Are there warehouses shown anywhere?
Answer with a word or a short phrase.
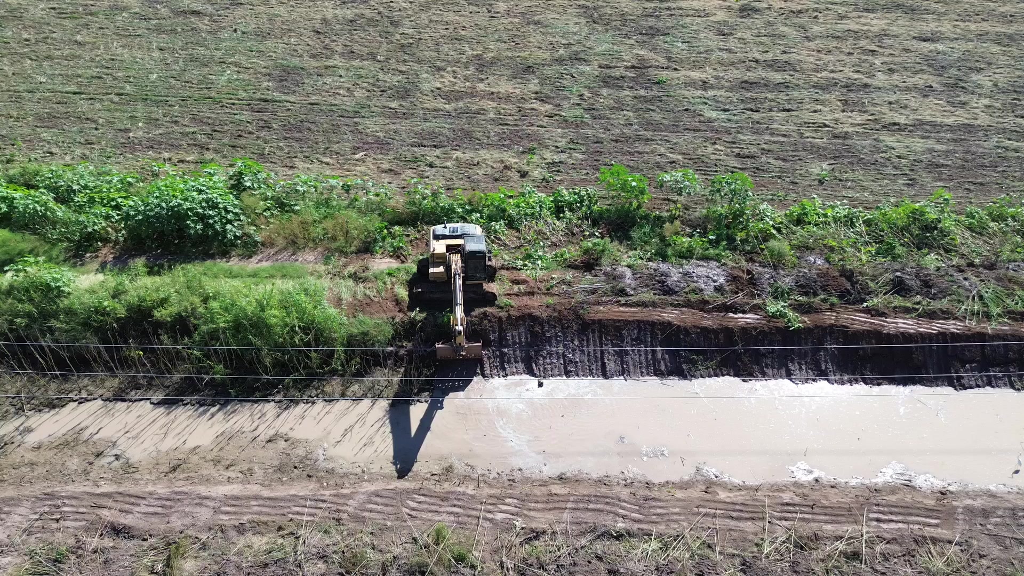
No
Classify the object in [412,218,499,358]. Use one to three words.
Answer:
work vehicle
